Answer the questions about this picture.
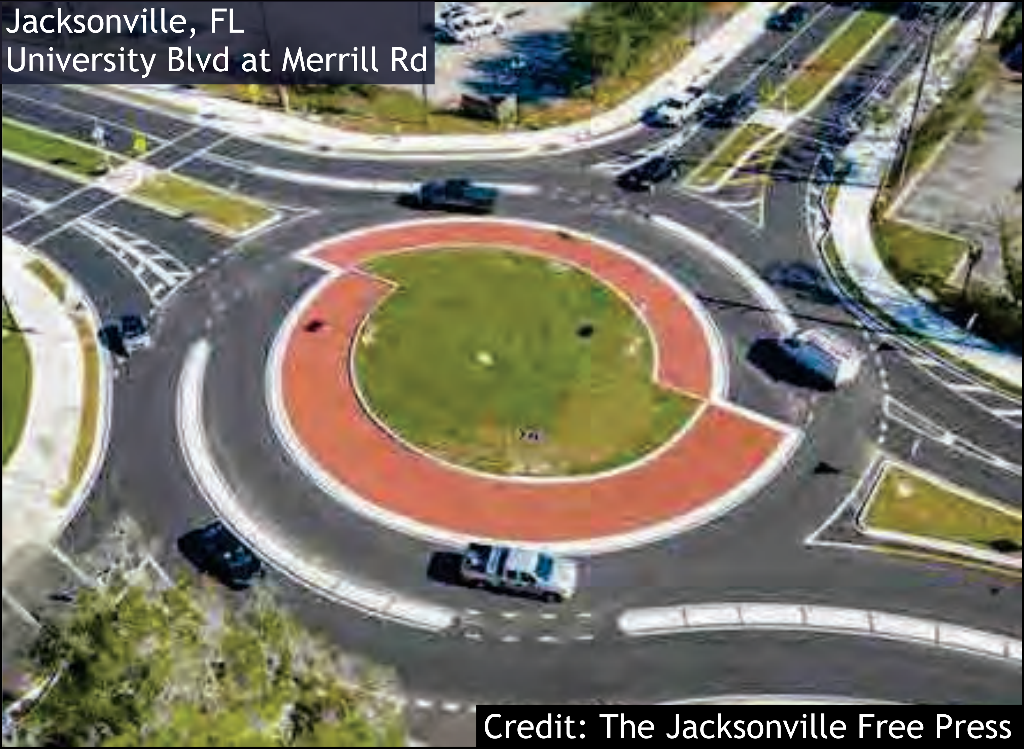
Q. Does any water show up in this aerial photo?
No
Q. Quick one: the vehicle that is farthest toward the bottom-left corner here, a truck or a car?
car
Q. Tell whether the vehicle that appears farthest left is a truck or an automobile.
automobile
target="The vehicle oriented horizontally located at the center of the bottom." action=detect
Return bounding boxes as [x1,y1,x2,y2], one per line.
[459,528,579,589]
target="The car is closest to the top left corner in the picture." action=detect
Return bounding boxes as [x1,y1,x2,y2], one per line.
[101,308,156,356]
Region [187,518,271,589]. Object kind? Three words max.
car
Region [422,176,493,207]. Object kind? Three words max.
truck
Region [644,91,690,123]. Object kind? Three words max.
car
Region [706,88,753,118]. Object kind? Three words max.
truck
